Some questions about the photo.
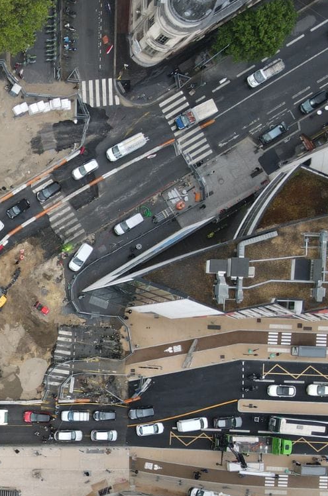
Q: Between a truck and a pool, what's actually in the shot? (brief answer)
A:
truck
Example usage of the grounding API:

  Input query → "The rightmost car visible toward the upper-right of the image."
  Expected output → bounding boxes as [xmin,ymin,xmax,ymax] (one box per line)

[297,89,328,115]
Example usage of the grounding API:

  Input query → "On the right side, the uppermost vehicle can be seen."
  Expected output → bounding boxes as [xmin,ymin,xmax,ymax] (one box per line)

[244,57,288,90]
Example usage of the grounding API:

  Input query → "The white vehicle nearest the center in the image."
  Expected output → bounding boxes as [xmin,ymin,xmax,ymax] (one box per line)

[112,211,148,237]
